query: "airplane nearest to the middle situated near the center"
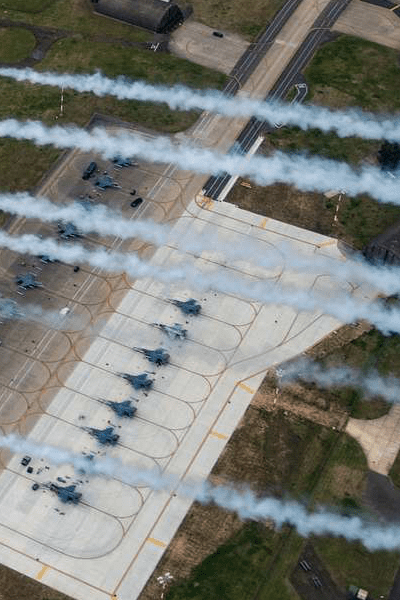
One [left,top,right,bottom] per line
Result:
[174,298,206,313]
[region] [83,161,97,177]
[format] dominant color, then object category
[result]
black vehicle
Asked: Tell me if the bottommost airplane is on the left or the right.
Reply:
left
